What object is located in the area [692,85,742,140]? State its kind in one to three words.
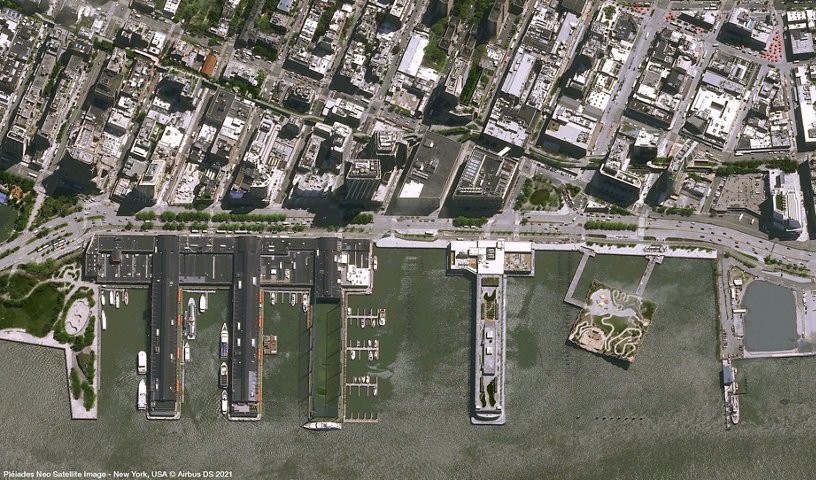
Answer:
building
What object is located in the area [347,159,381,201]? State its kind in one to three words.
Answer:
building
